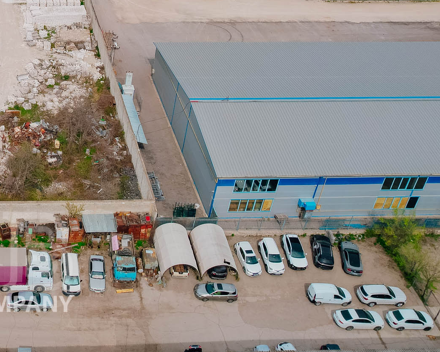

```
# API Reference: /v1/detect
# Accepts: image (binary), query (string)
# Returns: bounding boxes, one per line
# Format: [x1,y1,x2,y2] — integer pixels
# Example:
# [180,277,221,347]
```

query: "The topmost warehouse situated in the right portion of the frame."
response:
[152,42,440,222]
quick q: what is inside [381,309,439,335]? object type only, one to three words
car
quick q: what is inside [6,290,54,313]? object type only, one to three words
car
